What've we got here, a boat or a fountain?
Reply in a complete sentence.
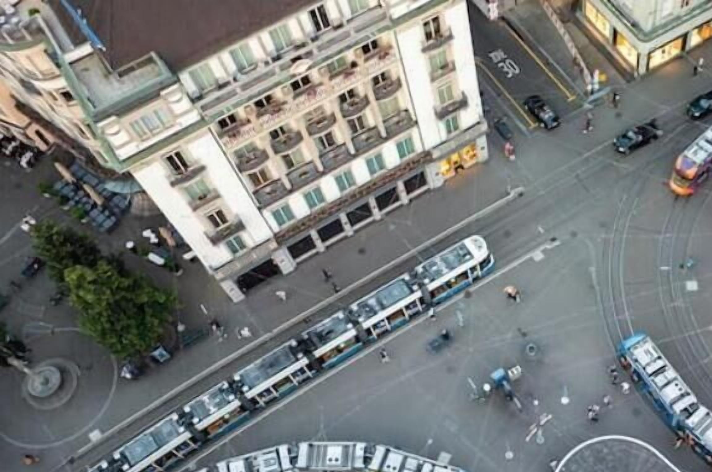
The image shows a fountain.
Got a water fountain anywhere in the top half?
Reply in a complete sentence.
No, no water fountain can be made out in the top half.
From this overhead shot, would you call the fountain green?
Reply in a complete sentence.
No, the fountain is gray.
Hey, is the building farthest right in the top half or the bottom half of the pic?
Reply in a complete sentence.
The building farthest right is in the top half of the image.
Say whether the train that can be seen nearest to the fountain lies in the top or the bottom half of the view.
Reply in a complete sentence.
It is in the bottom half that the train that can be seen nearest to the fountain appears.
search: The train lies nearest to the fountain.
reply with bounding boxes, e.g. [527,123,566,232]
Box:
[90,244,498,472]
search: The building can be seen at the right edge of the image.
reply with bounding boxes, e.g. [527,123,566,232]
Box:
[559,0,712,76]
